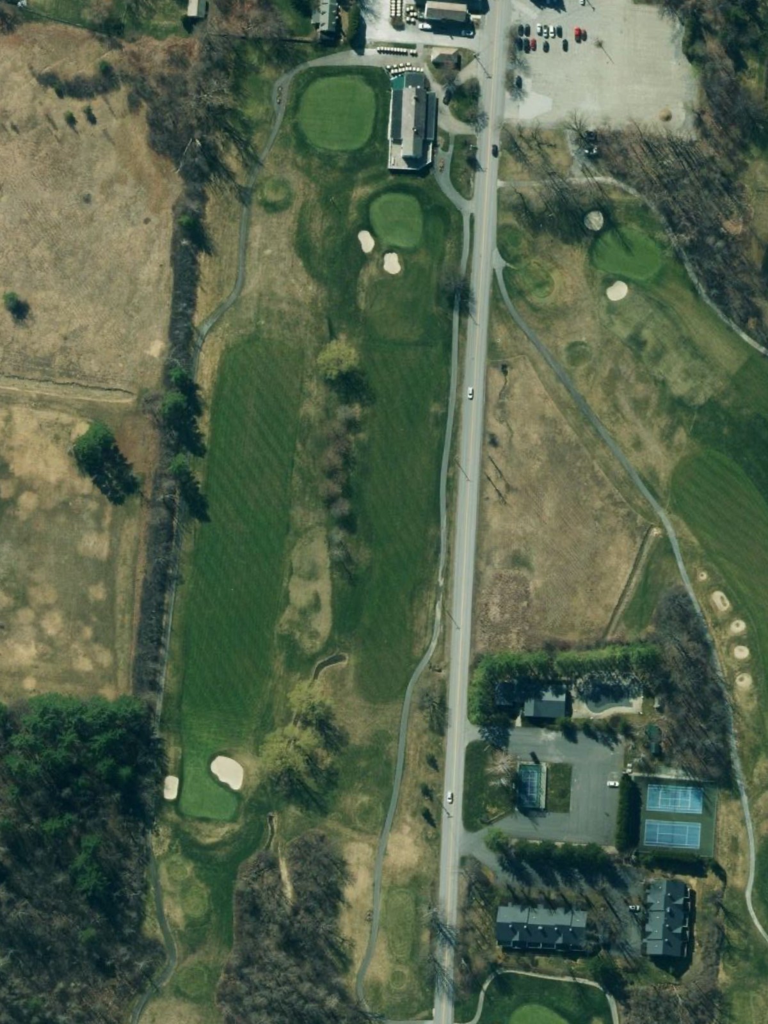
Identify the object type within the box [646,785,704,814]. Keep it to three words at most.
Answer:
tennis court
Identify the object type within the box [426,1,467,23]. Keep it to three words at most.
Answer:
house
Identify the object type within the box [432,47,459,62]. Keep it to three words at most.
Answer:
building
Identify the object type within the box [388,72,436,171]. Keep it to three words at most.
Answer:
building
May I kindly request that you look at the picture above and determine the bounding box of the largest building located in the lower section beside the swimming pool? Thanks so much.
[524,683,566,717]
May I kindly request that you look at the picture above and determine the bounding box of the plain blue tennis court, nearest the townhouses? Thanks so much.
[644,820,701,849]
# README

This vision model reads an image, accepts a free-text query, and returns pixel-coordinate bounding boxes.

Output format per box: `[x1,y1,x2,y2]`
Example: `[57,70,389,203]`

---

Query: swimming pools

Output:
[570,671,643,719]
